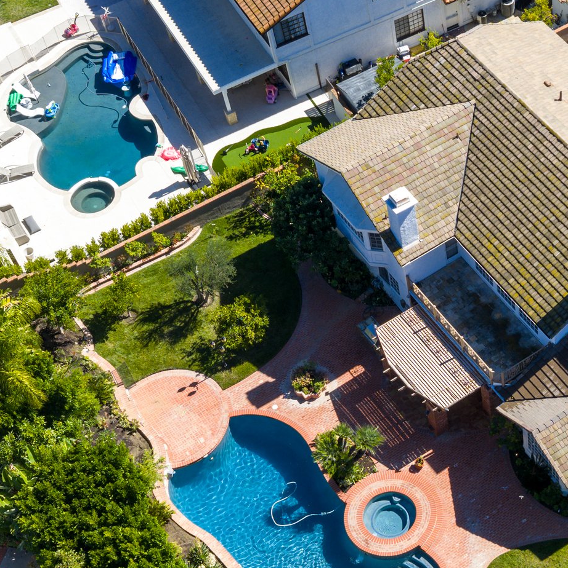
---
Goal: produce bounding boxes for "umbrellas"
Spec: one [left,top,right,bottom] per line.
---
[24,74,39,102]
[181,145,200,186]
